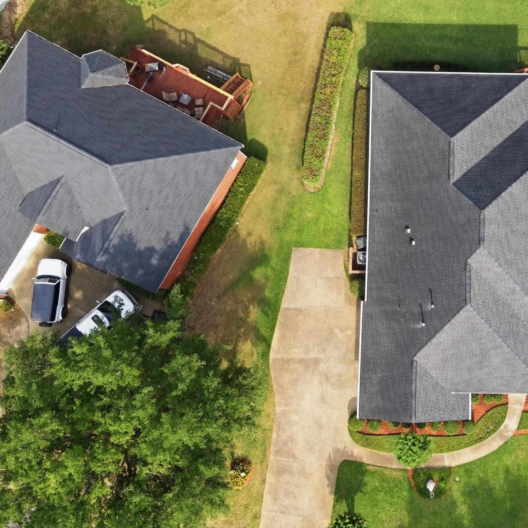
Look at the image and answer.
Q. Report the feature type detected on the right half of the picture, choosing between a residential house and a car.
residential house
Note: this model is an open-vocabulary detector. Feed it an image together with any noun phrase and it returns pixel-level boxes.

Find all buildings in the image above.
[0,30,252,297]
[356,70,528,423]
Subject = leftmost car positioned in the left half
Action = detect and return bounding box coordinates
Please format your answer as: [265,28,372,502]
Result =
[32,254,73,324]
